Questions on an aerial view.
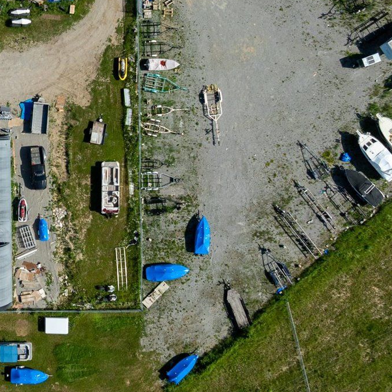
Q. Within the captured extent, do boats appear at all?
Yes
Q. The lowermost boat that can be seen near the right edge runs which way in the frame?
on a diagonal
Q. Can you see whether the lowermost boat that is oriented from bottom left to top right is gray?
No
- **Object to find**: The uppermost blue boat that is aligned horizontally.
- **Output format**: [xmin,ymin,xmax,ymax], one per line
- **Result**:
[145,262,188,282]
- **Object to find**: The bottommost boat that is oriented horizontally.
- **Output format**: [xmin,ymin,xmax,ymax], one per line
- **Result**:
[6,367,50,384]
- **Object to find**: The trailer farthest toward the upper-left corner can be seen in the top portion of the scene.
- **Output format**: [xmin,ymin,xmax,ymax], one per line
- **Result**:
[35,94,54,134]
